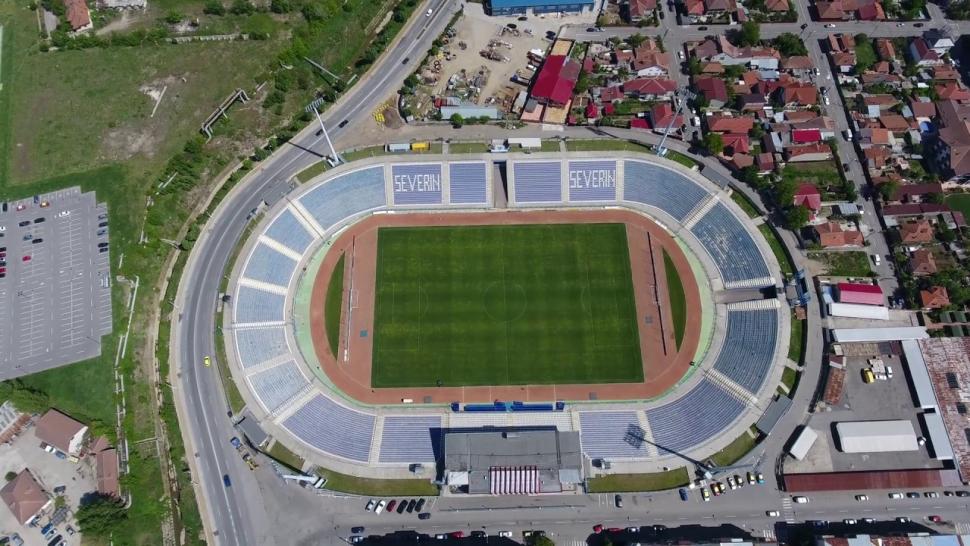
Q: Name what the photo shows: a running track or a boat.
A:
running track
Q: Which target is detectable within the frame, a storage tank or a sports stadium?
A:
sports stadium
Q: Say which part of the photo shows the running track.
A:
center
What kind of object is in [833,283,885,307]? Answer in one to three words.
building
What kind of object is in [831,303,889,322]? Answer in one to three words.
building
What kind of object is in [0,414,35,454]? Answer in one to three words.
shed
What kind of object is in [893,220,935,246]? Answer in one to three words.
house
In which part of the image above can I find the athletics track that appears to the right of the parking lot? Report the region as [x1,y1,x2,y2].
[311,207,702,406]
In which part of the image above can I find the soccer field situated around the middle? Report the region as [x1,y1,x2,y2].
[371,223,643,388]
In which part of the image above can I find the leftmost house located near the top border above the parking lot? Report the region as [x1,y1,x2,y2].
[66,0,97,38]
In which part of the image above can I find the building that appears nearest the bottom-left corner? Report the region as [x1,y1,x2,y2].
[0,467,57,525]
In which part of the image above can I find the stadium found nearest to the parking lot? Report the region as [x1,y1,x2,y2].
[224,150,791,492]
